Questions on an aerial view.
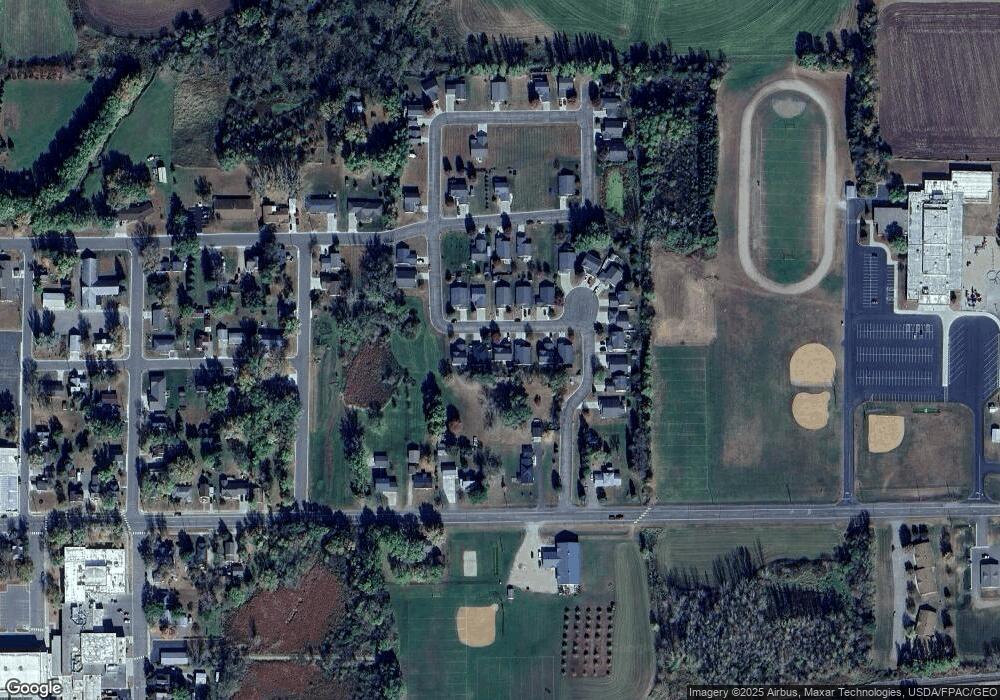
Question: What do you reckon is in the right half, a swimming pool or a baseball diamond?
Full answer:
What appears in the right half is a baseball diamond.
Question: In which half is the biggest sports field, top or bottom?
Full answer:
The biggest sports field is in the top half of the image.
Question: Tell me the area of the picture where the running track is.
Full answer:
The running track is in the top right part of the image.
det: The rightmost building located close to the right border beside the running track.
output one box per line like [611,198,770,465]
[874,172,991,306]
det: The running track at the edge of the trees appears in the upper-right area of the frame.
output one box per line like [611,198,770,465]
[738,81,846,294]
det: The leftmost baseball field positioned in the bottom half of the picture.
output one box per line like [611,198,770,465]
[457,600,504,647]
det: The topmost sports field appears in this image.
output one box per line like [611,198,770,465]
[756,117,823,279]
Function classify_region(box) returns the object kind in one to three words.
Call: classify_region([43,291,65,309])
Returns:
house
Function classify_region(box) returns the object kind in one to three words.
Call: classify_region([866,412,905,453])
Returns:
baseball field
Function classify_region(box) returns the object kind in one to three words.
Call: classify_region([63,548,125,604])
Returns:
building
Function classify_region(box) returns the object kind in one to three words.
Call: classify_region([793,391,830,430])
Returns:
baseball field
